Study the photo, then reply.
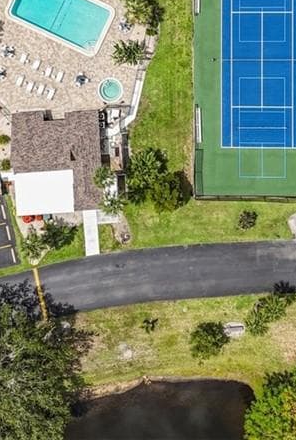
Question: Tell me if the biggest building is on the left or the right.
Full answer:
The biggest building sits on the left side.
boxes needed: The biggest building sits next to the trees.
[12,110,103,212]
